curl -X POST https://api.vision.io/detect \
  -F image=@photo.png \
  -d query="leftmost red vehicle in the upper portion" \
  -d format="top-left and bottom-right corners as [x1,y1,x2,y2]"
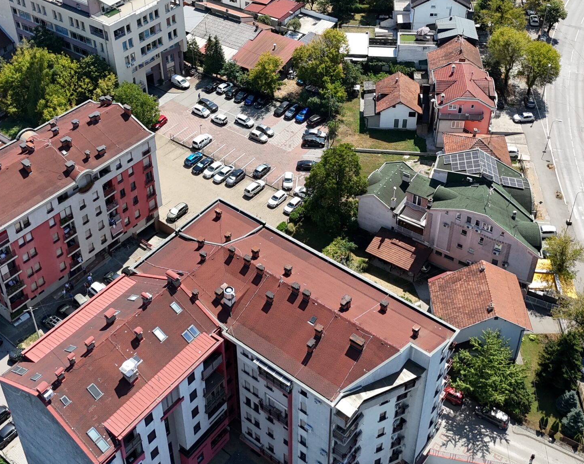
[152,115,169,130]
